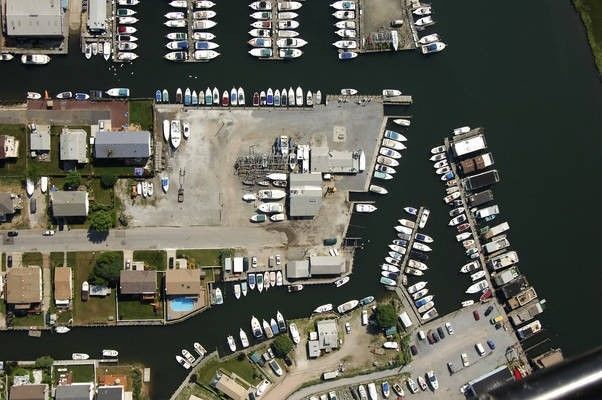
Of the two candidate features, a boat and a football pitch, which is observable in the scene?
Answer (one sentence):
I can see a boat in this picture.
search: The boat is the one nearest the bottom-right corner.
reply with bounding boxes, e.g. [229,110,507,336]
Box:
[532,349,564,371]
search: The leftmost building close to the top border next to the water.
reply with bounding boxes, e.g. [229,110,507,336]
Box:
[6,0,63,36]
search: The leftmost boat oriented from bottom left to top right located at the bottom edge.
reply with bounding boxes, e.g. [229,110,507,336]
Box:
[255,378,273,398]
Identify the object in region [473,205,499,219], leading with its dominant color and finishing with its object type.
white boat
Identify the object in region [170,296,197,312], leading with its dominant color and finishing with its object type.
blue swimming pool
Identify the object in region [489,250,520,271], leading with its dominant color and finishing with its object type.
white boat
